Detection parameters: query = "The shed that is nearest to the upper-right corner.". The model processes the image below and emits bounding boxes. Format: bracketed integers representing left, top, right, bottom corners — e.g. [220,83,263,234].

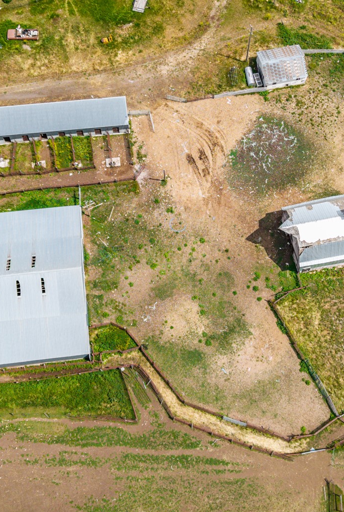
[250,42,307,93]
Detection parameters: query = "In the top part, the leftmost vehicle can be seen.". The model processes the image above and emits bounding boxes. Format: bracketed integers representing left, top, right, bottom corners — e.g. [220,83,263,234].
[7,24,40,42]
